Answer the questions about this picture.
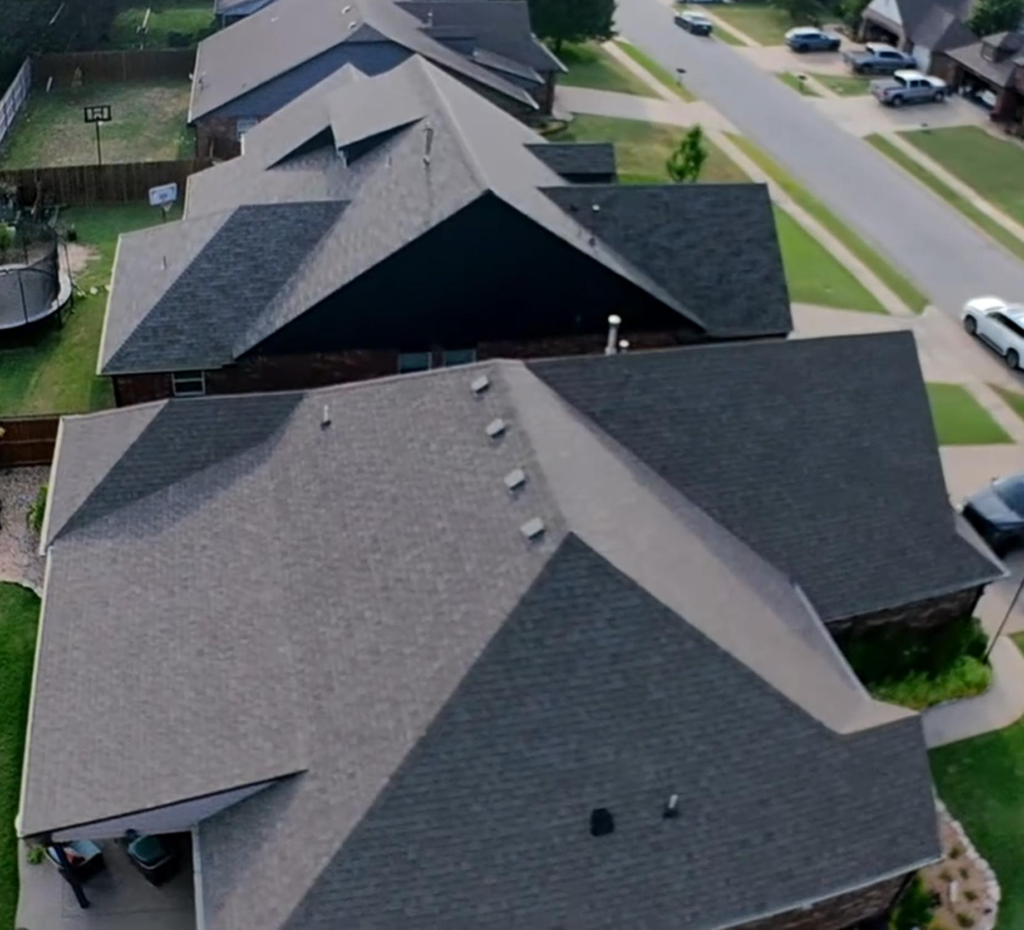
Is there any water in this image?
No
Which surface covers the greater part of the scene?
buildings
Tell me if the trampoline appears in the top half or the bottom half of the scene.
top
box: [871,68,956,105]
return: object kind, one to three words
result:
truck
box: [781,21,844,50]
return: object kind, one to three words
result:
car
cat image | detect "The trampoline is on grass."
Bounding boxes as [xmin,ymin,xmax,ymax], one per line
[0,225,95,346]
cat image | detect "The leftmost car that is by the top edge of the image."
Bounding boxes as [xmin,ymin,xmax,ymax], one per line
[673,4,717,32]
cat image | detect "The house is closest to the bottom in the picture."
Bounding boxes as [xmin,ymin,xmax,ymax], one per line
[14,315,1009,930]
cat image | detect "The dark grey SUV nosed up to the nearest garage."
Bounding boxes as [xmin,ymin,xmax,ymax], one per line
[967,477,1024,544]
